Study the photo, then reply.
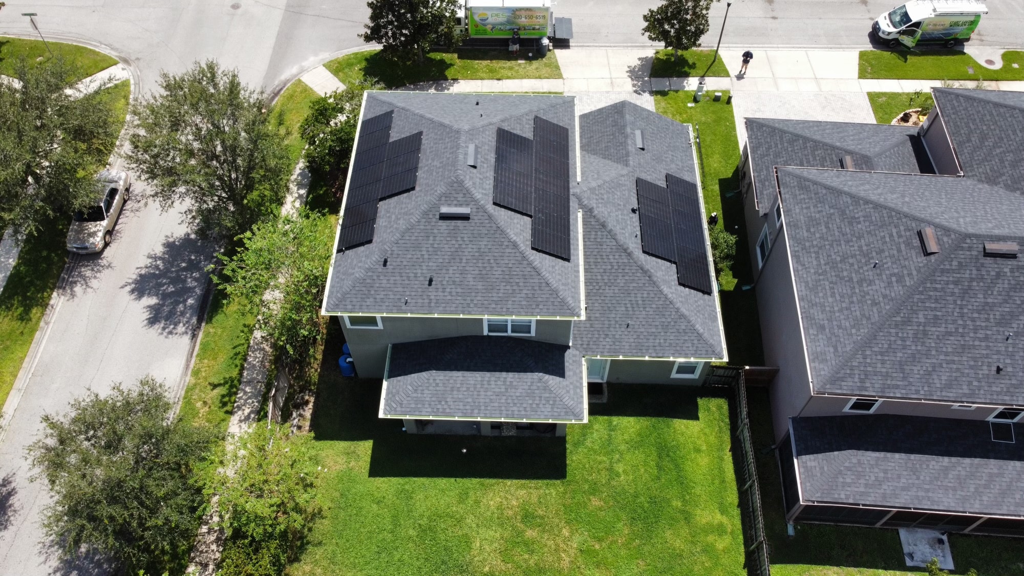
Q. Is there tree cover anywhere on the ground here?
Yes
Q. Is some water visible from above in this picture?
No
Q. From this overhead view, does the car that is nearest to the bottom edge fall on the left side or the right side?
left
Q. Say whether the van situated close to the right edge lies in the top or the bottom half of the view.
top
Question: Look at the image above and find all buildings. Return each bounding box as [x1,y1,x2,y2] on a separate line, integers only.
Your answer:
[321,91,729,437]
[737,88,1024,537]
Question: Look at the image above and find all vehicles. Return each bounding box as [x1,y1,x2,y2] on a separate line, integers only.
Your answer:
[445,0,573,47]
[66,179,129,259]
[872,0,991,48]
